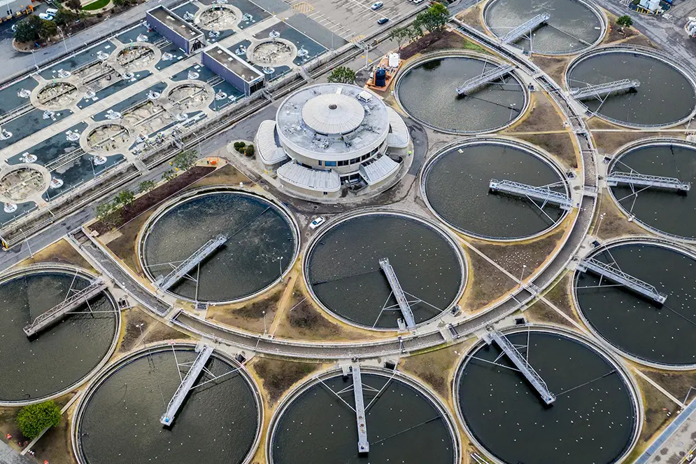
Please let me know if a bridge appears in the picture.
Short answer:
Yes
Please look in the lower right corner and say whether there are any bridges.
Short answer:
Yes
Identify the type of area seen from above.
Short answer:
industrial area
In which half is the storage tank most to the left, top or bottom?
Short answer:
bottom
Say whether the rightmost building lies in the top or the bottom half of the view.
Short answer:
top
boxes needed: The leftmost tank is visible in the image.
[0,263,129,408]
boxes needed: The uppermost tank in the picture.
[482,0,607,58]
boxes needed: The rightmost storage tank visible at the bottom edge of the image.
[455,320,646,464]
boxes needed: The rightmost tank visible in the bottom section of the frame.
[561,230,696,367]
